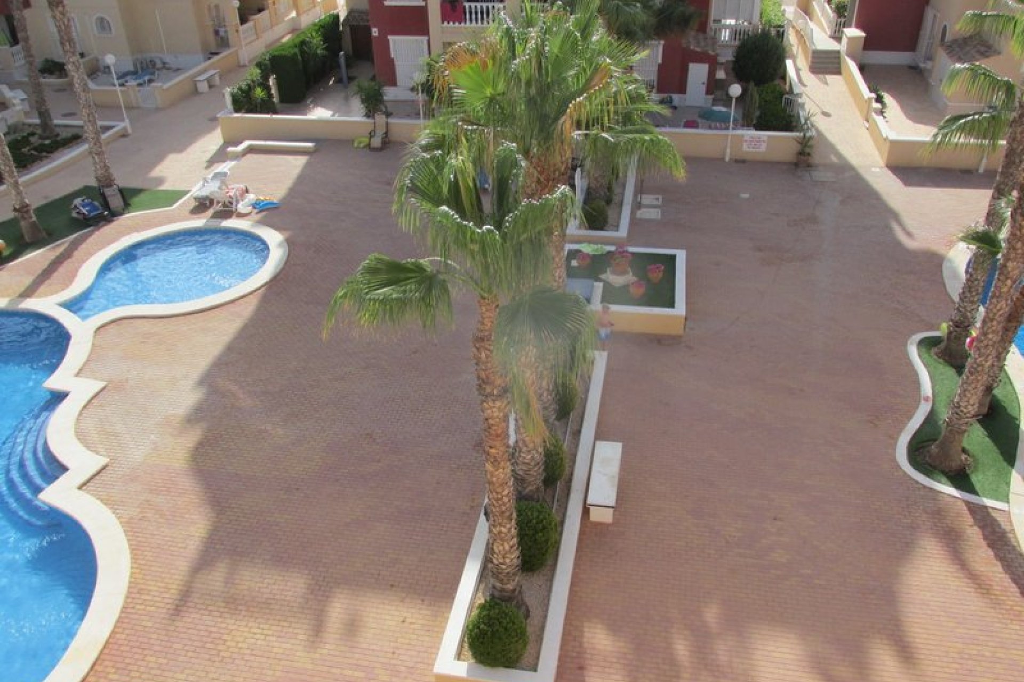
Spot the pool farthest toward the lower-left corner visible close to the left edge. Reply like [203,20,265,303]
[0,217,288,682]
